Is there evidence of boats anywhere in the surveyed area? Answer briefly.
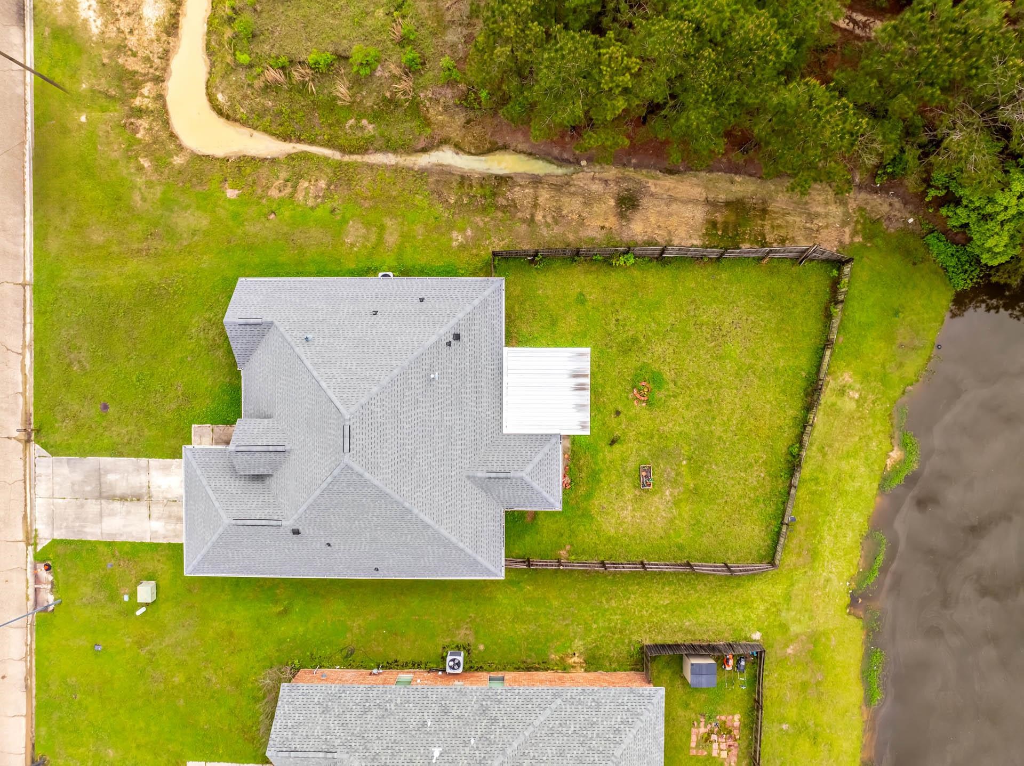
No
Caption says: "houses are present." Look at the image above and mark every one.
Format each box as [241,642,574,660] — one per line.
[183,276,562,580]
[268,668,666,766]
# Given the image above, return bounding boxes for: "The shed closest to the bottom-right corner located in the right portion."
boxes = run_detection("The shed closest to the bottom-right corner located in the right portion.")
[684,652,716,687]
